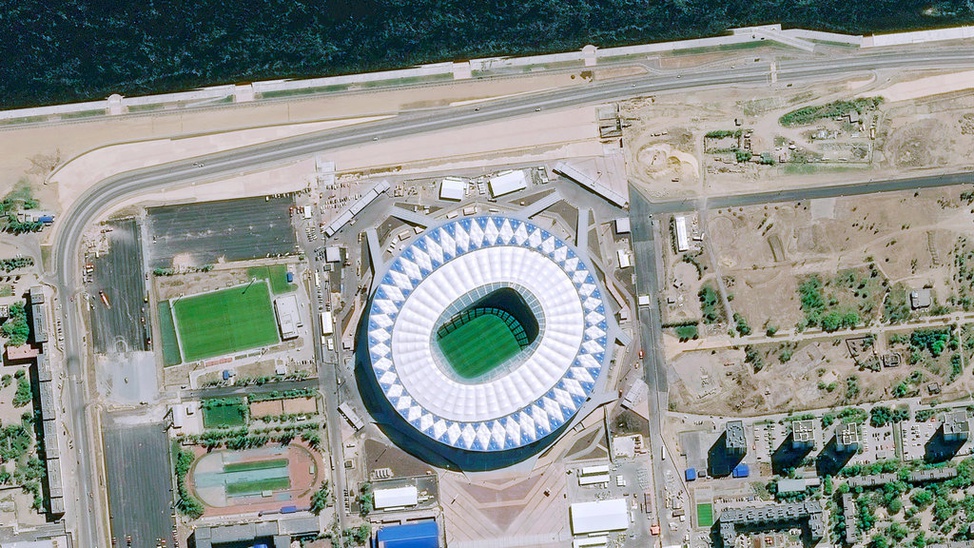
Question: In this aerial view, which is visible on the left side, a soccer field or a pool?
soccer field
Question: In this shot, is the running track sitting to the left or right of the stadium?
left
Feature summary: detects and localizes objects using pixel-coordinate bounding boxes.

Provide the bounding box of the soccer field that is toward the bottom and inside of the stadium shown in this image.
[435,292,540,383]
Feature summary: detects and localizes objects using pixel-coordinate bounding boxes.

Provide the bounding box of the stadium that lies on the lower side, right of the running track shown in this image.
[356,213,618,481]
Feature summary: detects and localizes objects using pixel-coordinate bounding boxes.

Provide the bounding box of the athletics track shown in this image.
[185,441,326,518]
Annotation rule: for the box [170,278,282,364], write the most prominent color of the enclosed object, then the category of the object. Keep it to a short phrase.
green soccer field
